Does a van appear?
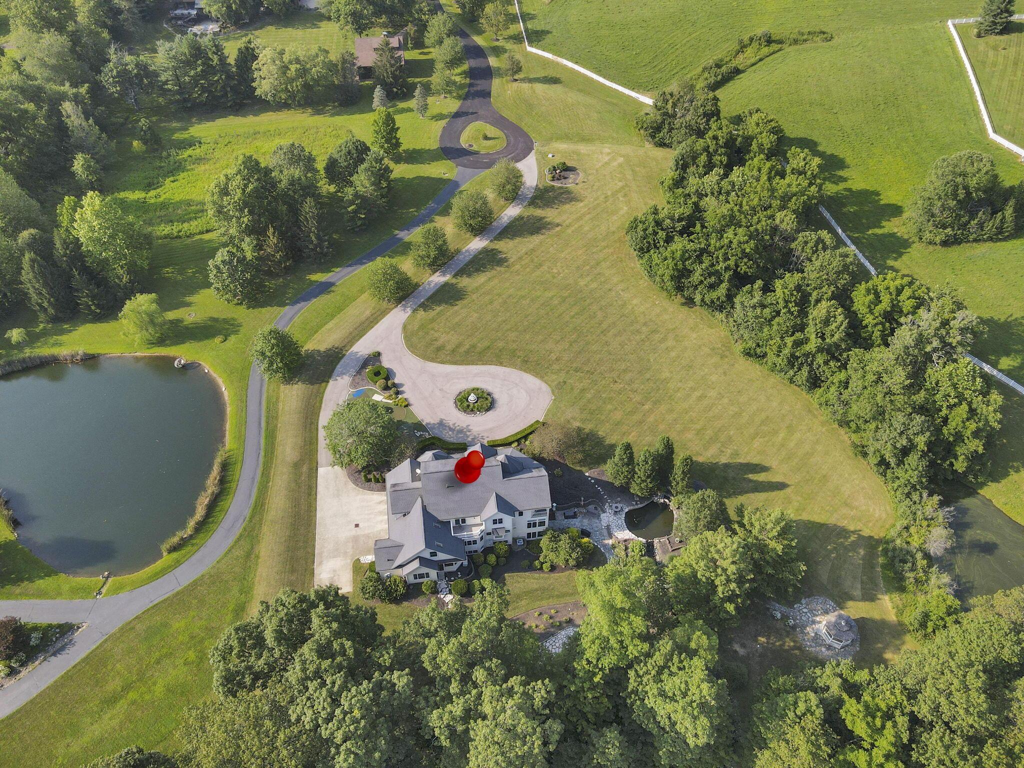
No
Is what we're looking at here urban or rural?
rural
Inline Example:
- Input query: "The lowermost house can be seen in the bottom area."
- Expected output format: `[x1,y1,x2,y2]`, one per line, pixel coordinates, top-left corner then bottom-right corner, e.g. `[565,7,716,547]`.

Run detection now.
[374,442,552,584]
